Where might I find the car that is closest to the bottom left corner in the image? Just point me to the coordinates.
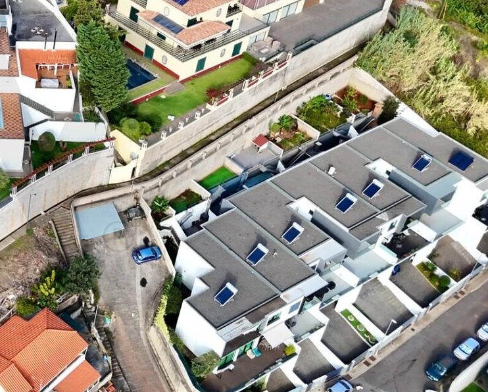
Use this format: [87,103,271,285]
[130,245,162,262]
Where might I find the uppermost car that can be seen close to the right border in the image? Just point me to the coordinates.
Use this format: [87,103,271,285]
[474,320,488,342]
